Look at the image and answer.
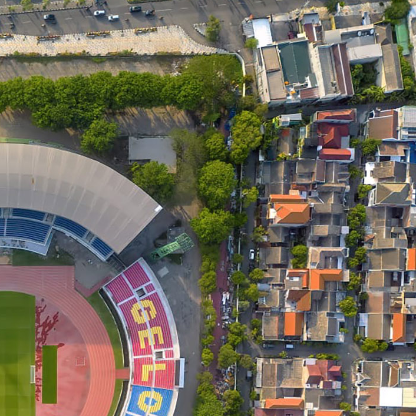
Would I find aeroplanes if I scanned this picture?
No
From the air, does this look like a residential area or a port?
residential area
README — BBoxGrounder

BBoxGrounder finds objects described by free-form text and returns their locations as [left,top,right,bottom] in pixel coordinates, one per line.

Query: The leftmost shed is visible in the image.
[126,138,176,161]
